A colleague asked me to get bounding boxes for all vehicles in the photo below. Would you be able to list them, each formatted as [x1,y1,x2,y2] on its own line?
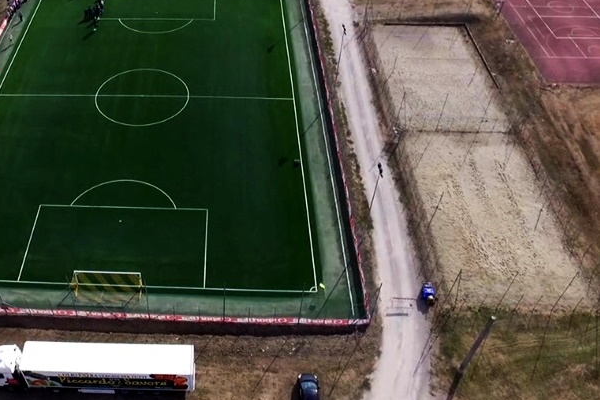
[295,374,323,400]
[418,283,440,309]
[0,343,194,396]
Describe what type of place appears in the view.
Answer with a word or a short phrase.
sports ground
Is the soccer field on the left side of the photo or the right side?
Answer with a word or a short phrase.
left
